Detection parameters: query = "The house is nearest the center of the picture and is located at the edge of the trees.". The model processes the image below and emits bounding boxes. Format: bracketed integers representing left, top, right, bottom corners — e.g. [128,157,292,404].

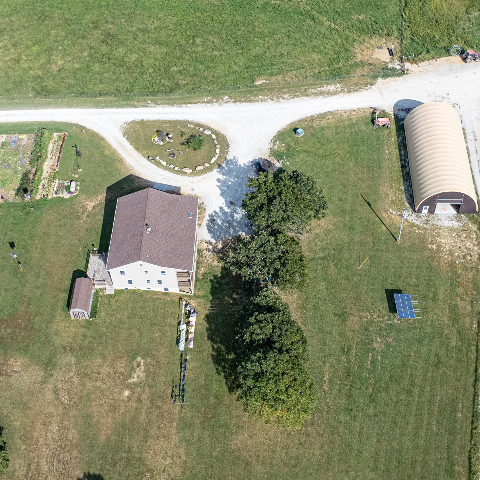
[86,186,198,294]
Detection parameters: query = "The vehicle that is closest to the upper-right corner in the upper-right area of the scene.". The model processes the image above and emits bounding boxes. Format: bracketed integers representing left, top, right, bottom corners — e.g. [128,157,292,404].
[463,47,480,63]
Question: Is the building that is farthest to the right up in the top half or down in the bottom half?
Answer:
top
